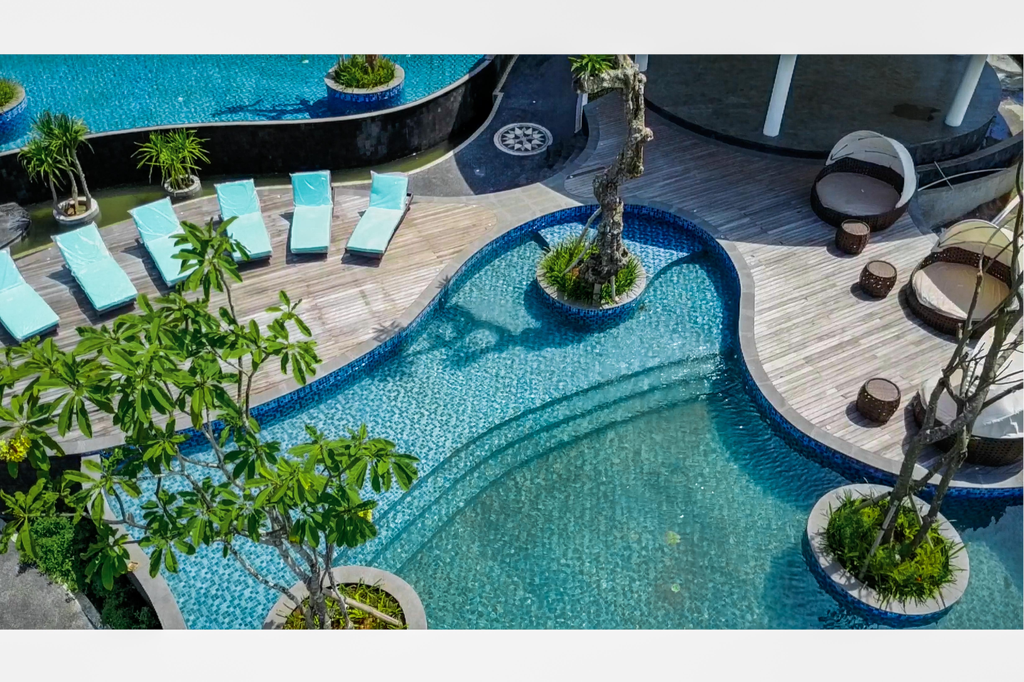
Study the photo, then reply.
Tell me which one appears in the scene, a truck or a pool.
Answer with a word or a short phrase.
pool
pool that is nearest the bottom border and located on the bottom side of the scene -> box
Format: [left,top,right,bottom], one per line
[105,214,1024,682]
